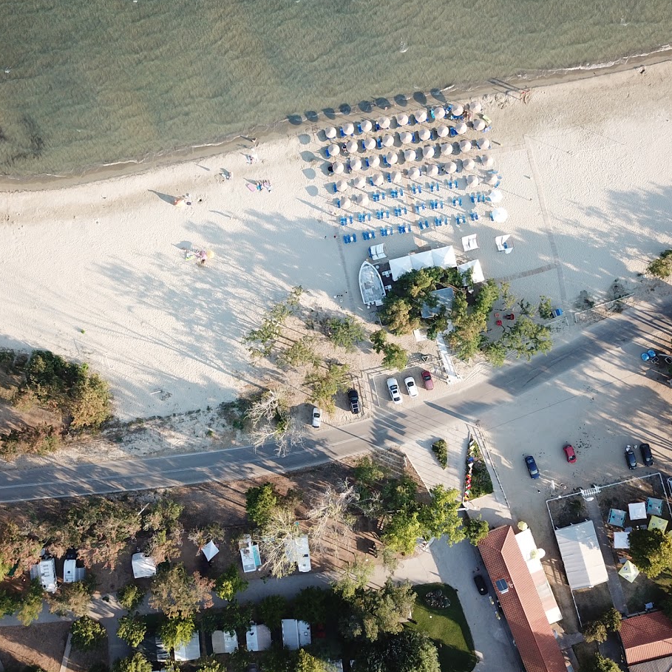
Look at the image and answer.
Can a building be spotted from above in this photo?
Yes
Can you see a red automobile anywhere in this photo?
Yes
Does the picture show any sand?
Yes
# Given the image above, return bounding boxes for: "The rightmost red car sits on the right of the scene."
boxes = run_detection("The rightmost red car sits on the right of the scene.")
[561,442,577,464]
